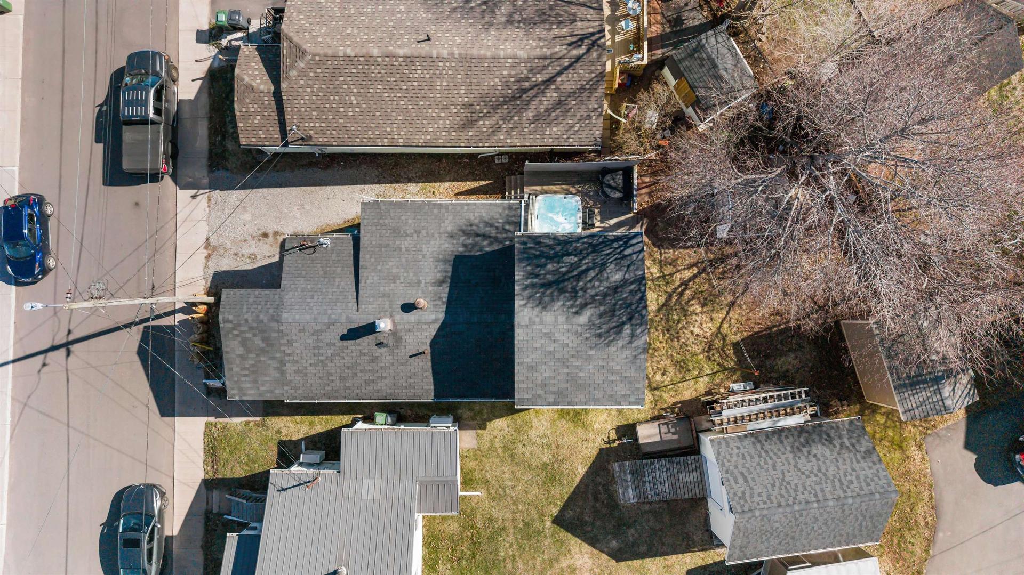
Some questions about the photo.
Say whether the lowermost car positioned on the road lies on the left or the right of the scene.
left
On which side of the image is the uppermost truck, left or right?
left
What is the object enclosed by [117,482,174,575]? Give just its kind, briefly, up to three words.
car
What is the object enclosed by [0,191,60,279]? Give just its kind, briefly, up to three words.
car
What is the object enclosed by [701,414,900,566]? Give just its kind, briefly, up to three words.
shed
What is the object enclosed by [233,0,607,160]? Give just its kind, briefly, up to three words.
house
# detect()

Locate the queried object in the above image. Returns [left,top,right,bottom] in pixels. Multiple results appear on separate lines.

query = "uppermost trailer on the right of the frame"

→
[609,412,704,454]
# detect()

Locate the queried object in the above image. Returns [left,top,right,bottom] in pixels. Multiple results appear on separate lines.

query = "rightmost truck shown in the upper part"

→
[118,52,180,179]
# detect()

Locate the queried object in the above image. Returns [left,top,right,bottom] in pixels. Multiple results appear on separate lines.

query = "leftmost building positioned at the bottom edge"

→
[216,421,481,575]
